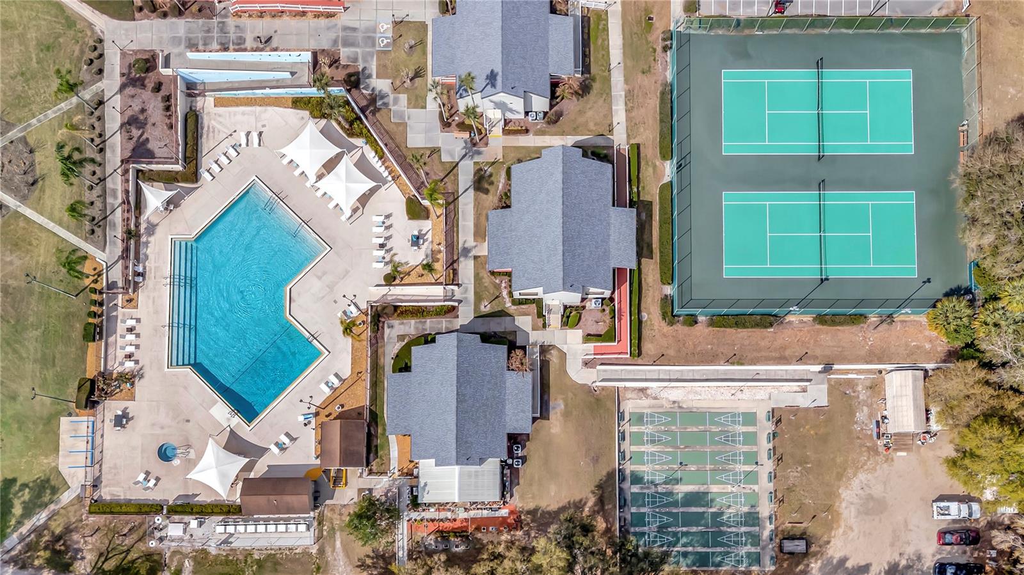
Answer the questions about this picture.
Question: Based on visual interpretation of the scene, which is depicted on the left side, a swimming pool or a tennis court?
swimming pool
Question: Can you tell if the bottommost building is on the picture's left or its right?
left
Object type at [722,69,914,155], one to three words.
tennis court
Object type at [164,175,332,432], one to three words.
swimming pool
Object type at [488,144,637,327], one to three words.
building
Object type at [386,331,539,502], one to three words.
building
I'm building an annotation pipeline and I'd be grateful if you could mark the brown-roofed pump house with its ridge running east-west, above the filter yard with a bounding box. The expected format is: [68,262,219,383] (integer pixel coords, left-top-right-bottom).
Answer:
[241,478,320,515]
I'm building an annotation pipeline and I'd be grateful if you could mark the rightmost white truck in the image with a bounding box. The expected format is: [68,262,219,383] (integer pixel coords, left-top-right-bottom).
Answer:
[932,501,985,522]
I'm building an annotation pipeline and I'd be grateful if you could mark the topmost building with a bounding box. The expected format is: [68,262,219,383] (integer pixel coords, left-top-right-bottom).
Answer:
[432,0,605,136]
